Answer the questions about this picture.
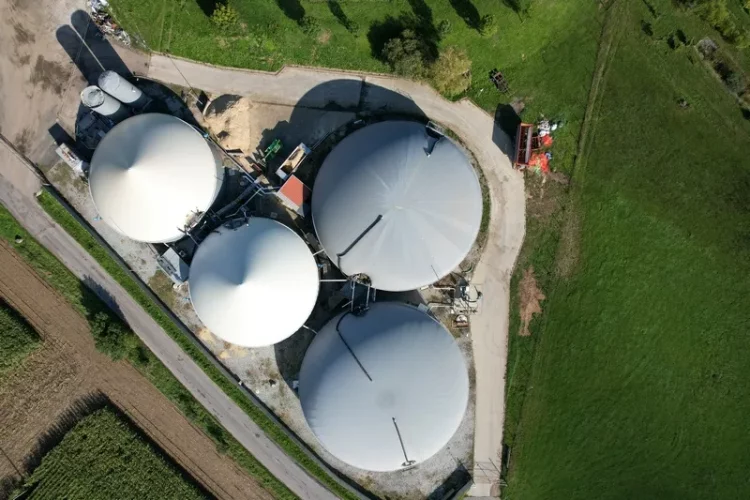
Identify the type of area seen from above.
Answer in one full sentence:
What you see here is an industrial area.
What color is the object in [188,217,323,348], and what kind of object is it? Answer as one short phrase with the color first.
white storage tank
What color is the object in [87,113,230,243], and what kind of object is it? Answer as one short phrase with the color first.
white storage tank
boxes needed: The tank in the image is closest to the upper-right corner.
[311,121,482,294]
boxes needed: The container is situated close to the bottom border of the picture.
[442,474,475,500]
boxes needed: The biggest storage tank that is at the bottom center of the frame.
[298,299,470,474]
